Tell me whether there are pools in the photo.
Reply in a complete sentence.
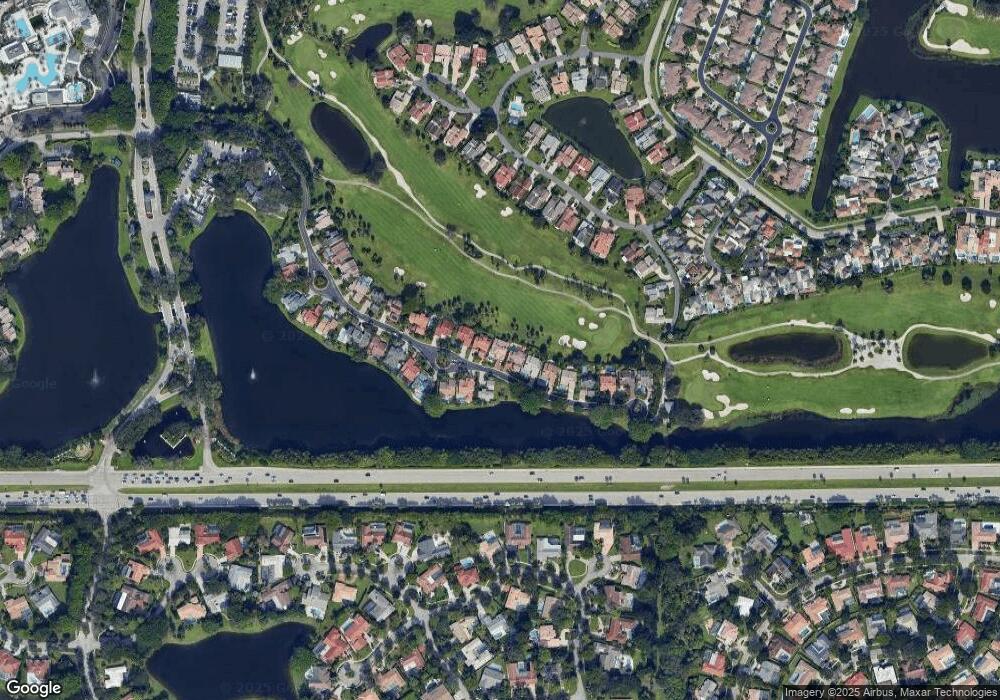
Yes, the frame does contain a pool.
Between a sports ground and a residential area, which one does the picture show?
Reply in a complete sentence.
The picture captures a residential area.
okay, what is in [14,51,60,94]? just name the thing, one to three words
swimming pool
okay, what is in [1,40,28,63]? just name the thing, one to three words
building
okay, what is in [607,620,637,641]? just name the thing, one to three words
house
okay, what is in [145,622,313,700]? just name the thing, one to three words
pond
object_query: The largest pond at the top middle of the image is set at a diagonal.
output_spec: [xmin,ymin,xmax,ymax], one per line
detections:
[543,97,645,182]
